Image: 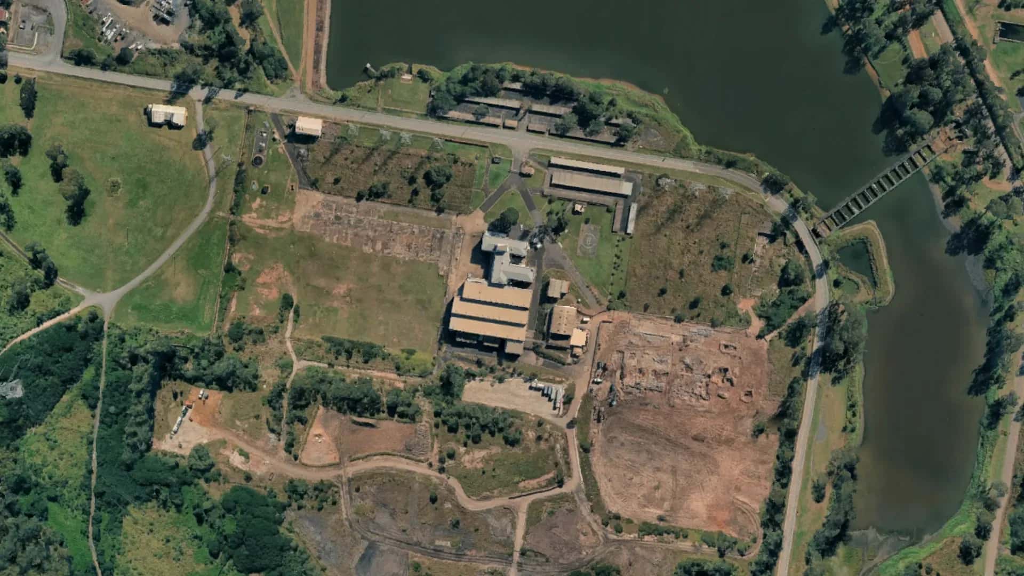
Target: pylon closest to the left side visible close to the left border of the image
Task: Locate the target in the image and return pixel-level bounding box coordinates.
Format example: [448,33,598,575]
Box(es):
[5,381,33,406]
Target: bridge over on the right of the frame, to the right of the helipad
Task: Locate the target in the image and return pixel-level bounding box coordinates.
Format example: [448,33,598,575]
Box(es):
[815,140,942,237]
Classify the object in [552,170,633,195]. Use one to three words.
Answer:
shed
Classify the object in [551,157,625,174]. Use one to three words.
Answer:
shed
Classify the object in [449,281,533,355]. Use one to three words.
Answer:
building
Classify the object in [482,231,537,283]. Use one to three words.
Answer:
building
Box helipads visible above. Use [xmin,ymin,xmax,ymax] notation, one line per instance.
[578,225,600,256]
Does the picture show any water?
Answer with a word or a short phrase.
Yes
